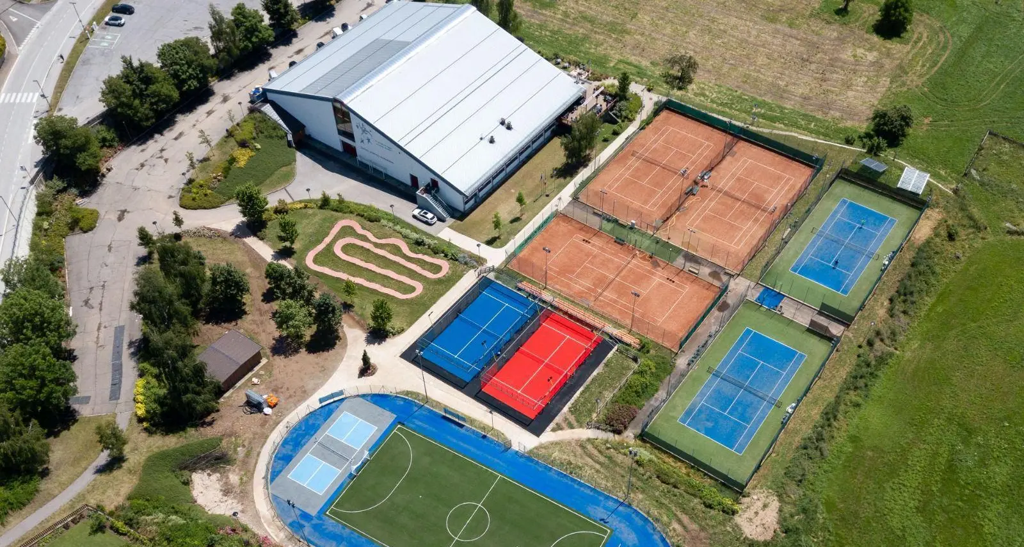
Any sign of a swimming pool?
No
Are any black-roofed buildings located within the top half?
No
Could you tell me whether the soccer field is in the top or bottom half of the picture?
bottom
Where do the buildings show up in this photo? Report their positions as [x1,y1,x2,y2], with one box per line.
[194,322,260,383]
[263,3,584,213]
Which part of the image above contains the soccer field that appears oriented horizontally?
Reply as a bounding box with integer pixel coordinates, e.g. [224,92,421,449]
[323,422,616,547]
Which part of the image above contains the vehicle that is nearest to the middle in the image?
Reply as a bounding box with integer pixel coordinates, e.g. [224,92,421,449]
[413,209,437,224]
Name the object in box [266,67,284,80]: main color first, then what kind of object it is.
white vehicle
